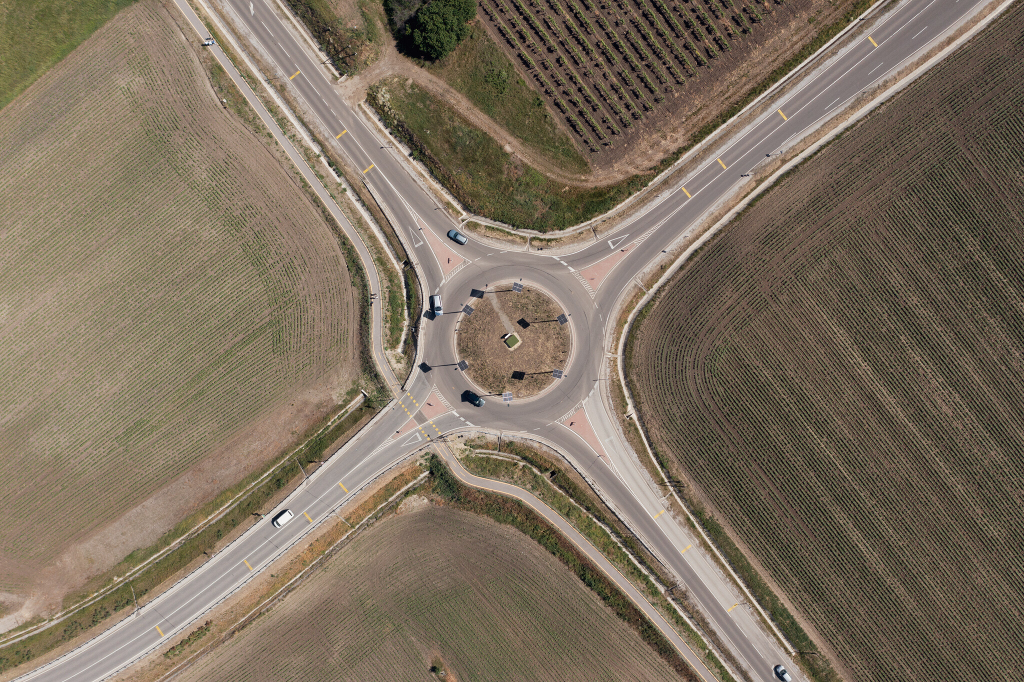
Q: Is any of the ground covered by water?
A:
No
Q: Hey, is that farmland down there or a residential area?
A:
farmland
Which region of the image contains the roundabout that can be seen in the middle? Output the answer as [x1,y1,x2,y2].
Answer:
[420,226,604,433]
